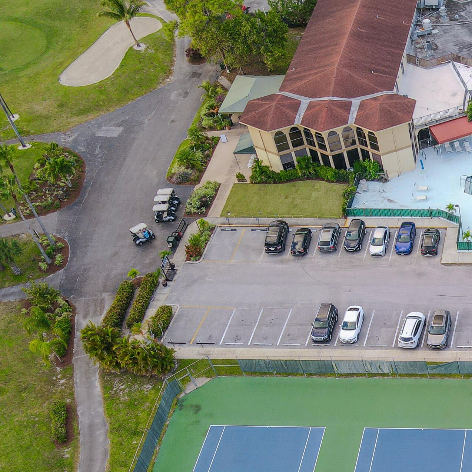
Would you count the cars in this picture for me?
eleven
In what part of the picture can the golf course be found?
top left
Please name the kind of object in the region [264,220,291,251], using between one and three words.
car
